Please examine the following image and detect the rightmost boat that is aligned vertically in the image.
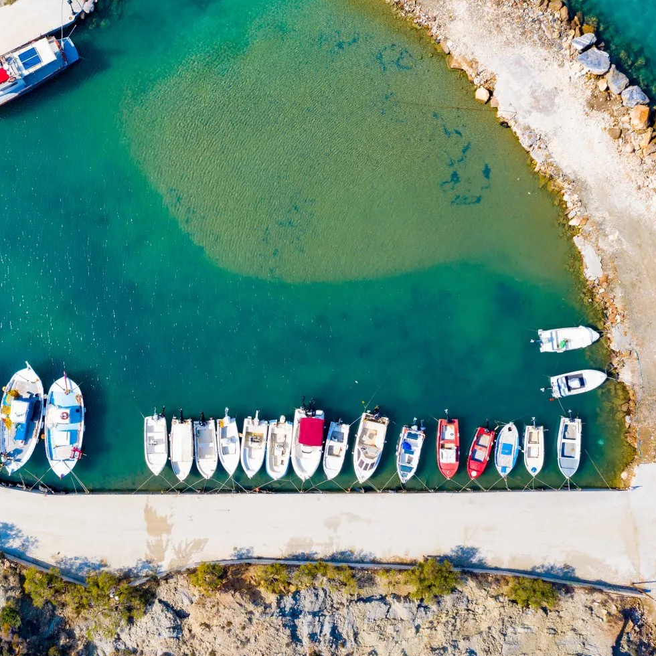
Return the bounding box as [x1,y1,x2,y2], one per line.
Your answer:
[555,409,582,491]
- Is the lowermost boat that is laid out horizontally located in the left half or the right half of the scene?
right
